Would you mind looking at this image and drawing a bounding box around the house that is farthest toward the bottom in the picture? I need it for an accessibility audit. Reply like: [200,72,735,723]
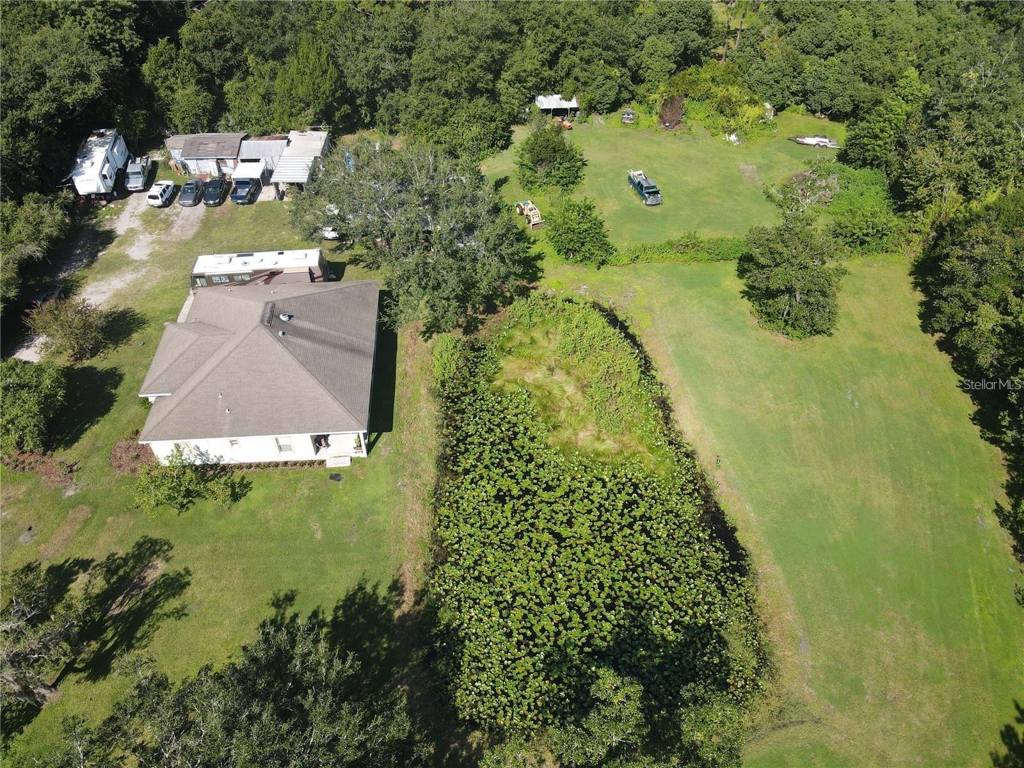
[138,278,383,467]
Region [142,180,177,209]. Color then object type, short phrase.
white car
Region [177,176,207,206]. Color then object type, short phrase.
gray car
